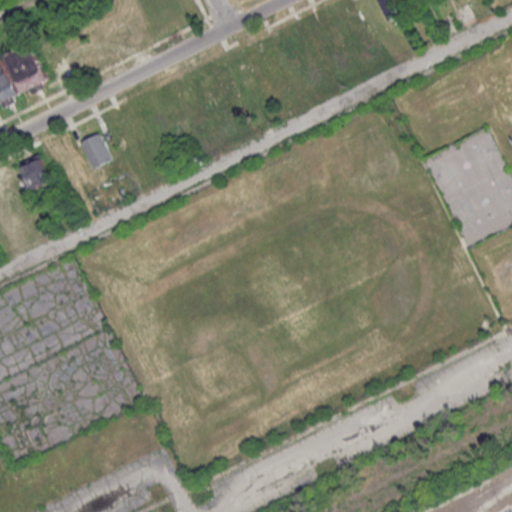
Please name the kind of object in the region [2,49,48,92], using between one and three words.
house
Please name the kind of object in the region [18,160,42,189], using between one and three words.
house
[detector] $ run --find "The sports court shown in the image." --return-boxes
[426,132,512,244]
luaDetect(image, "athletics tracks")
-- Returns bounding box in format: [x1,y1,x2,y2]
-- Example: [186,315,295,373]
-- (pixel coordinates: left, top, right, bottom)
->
[150,196,429,404]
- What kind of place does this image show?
sports ground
